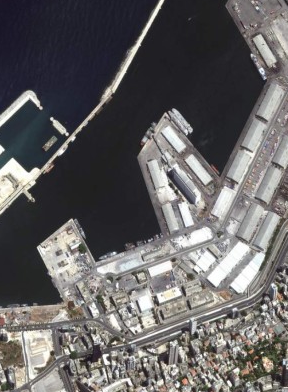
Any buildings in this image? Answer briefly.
Yes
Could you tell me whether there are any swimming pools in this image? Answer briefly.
No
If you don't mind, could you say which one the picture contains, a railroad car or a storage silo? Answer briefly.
storage silo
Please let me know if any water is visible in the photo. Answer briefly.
Yes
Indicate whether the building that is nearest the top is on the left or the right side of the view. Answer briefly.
right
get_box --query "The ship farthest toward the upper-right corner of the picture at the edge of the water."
[251,53,266,80]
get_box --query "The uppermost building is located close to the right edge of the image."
[252,33,277,68]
